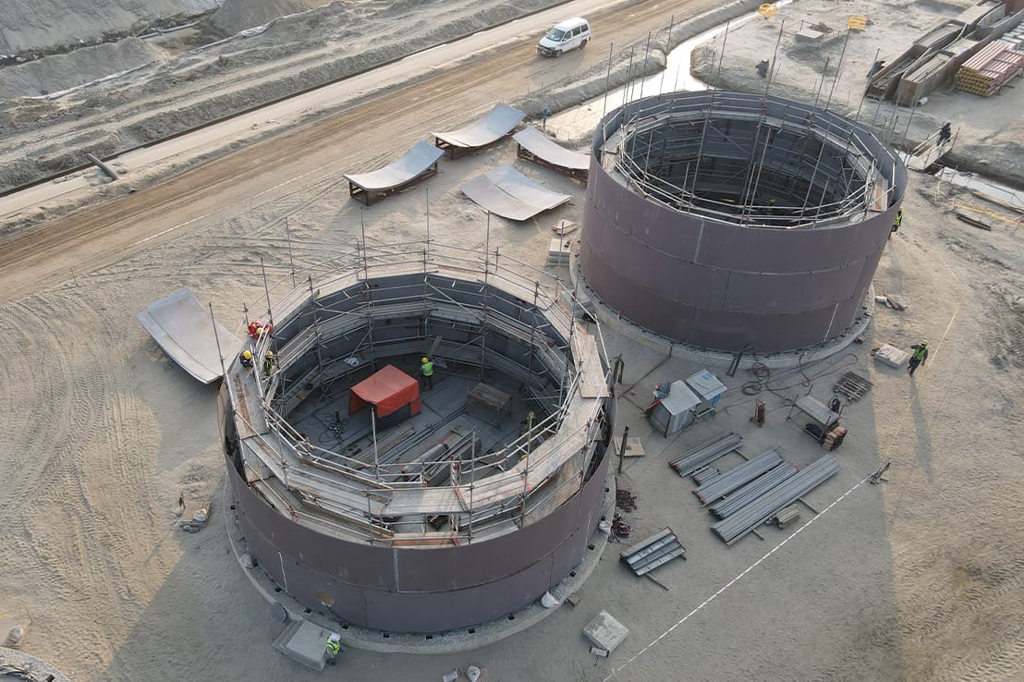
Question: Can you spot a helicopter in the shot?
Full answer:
No, no helicopter is visible in the scene.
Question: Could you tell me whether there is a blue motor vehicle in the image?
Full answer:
No, the photo shows no blue motor vehicle.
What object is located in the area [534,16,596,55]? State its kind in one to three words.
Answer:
van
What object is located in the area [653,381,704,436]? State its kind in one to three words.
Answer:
shed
